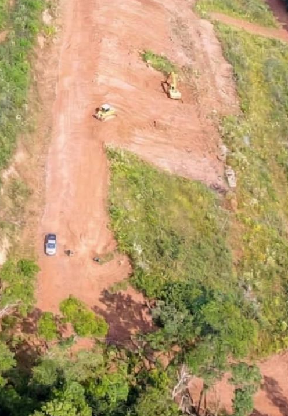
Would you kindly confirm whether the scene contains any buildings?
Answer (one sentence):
No, the picture doesn't show any building.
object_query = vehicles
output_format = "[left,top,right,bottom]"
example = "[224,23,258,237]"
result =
[164,68,184,103]
[89,102,117,124]
[45,235,57,256]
